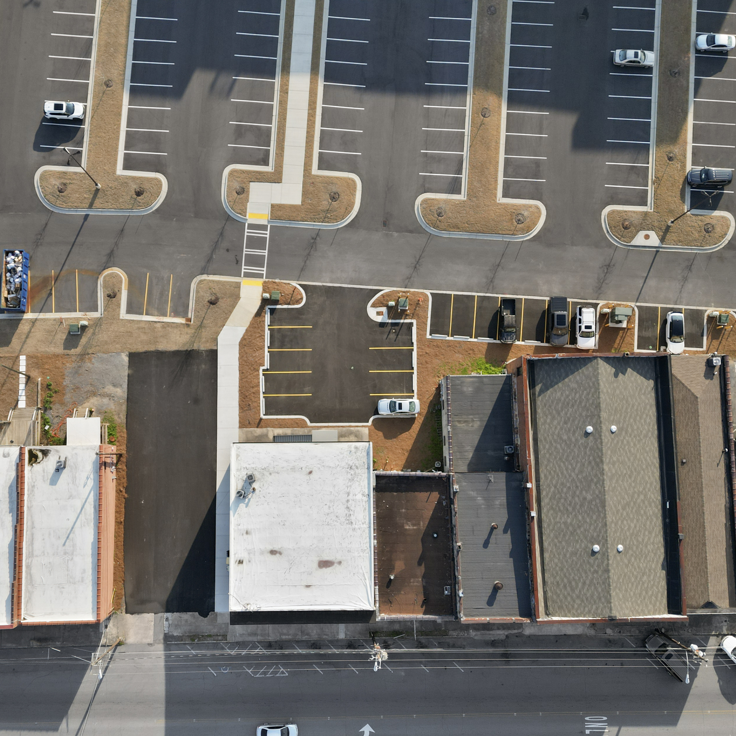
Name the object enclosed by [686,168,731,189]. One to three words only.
car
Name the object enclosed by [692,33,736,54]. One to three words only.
car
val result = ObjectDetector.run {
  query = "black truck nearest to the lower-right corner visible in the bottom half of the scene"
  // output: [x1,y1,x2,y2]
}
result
[643,633,692,684]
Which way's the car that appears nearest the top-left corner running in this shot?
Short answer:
horizontally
